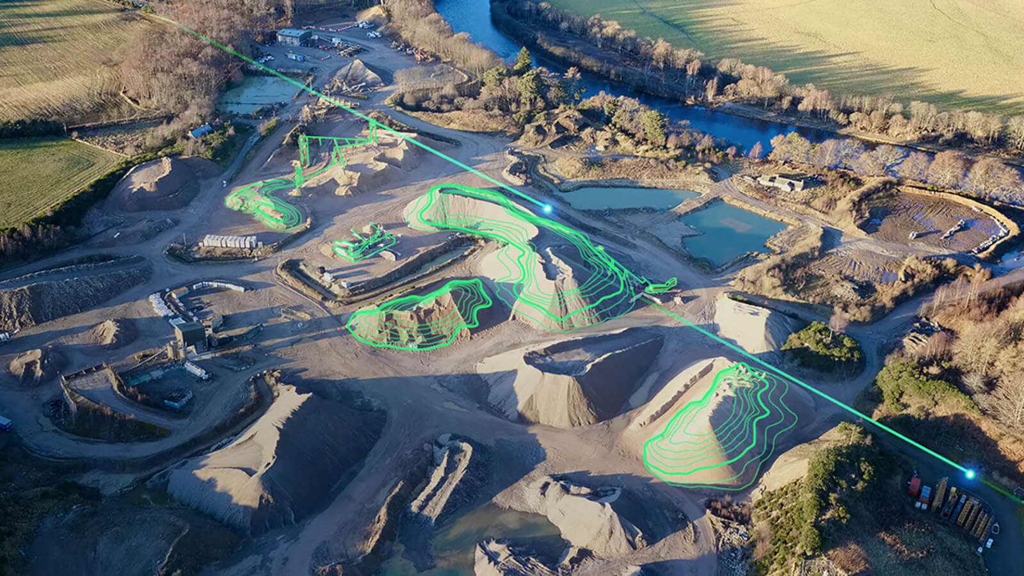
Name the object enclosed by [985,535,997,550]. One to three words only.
vehicle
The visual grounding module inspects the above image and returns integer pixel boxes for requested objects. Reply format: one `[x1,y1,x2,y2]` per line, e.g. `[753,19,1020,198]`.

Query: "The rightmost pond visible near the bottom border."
[378,504,557,576]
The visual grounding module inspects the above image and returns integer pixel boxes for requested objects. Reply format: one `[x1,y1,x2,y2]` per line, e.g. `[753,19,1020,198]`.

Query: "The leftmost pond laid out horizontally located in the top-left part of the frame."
[219,75,305,113]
